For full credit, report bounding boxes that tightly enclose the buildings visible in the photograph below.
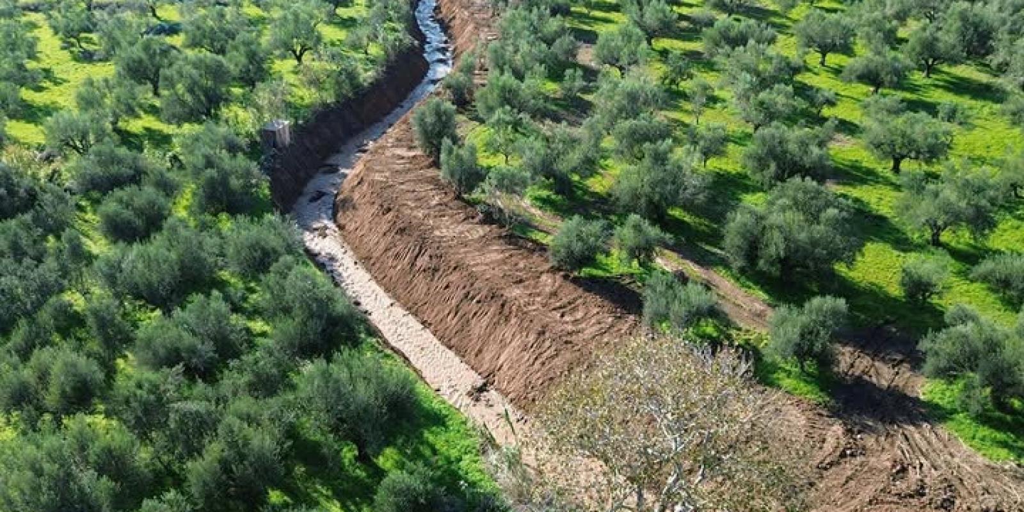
[263,116,290,151]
